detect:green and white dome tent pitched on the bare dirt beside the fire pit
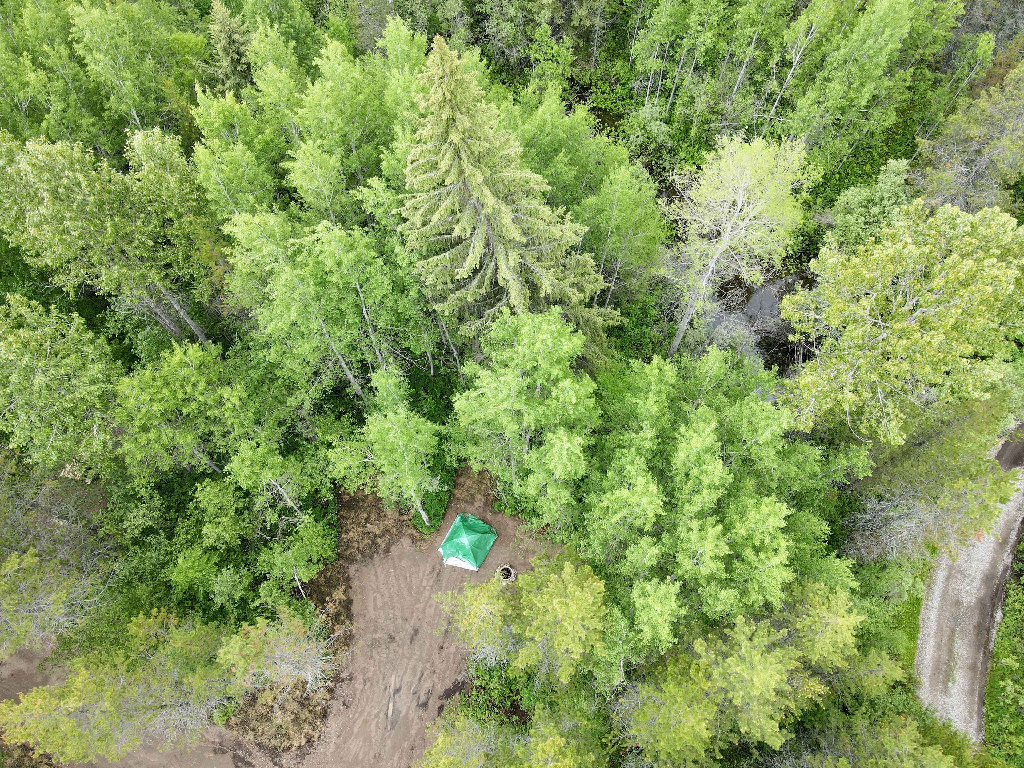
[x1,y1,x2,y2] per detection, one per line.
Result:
[436,512,499,574]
